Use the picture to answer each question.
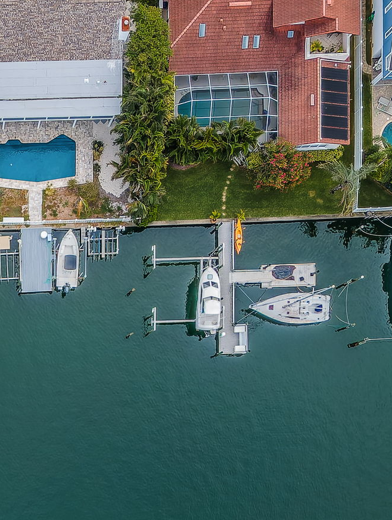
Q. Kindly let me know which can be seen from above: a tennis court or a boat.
boat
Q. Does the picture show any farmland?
No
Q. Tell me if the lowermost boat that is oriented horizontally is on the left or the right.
right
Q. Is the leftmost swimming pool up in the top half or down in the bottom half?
top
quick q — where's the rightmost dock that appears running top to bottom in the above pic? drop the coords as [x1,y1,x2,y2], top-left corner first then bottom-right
[214,220,249,353]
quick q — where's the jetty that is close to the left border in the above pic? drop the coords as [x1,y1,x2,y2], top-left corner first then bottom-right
[19,227,52,294]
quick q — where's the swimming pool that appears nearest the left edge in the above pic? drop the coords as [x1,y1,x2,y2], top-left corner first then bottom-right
[0,131,79,184]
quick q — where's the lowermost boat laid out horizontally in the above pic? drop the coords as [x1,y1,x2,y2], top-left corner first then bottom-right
[249,288,337,324]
